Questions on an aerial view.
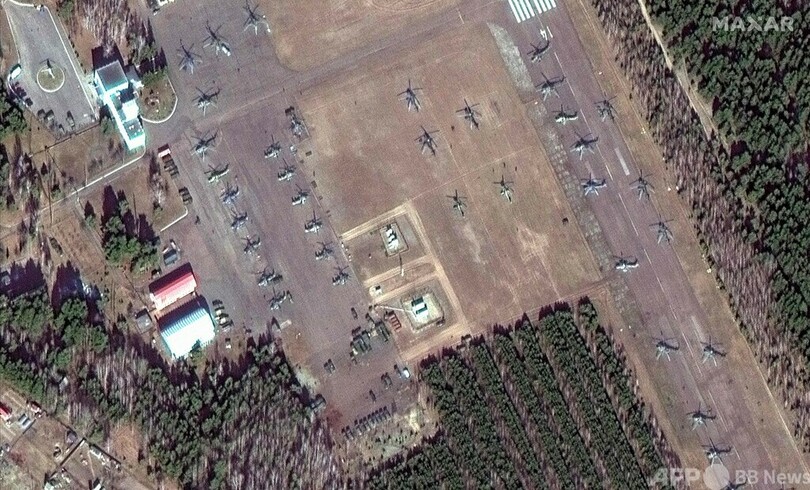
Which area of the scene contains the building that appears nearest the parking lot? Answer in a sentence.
The building that appears nearest the parking lot sits in the top left section of the image.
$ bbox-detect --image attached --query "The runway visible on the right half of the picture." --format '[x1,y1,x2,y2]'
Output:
[502,0,787,490]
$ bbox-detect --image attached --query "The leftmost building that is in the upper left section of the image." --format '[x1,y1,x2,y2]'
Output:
[96,59,146,151]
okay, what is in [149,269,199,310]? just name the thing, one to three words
building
